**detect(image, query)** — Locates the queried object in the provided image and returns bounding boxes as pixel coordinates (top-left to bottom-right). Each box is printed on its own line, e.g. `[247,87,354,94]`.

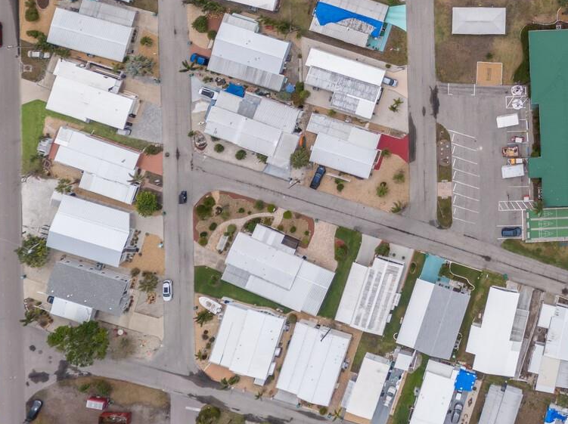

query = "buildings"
[305,48,386,119]
[54,126,145,204]
[309,0,390,47]
[452,7,505,34]
[276,320,353,406]
[46,59,139,129]
[528,30,568,208]
[209,296,287,386]
[307,113,383,178]
[481,380,523,424]
[46,257,137,322]
[47,0,138,61]
[335,255,405,335]
[222,222,337,315]
[466,285,529,377]
[528,302,568,393]
[47,194,136,267]
[544,404,568,424]
[396,278,470,359]
[410,358,476,424]
[208,14,293,91]
[341,351,412,419]
[205,83,303,169]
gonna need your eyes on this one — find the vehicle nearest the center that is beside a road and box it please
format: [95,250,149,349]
[308,165,325,190]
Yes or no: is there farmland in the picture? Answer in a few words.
No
